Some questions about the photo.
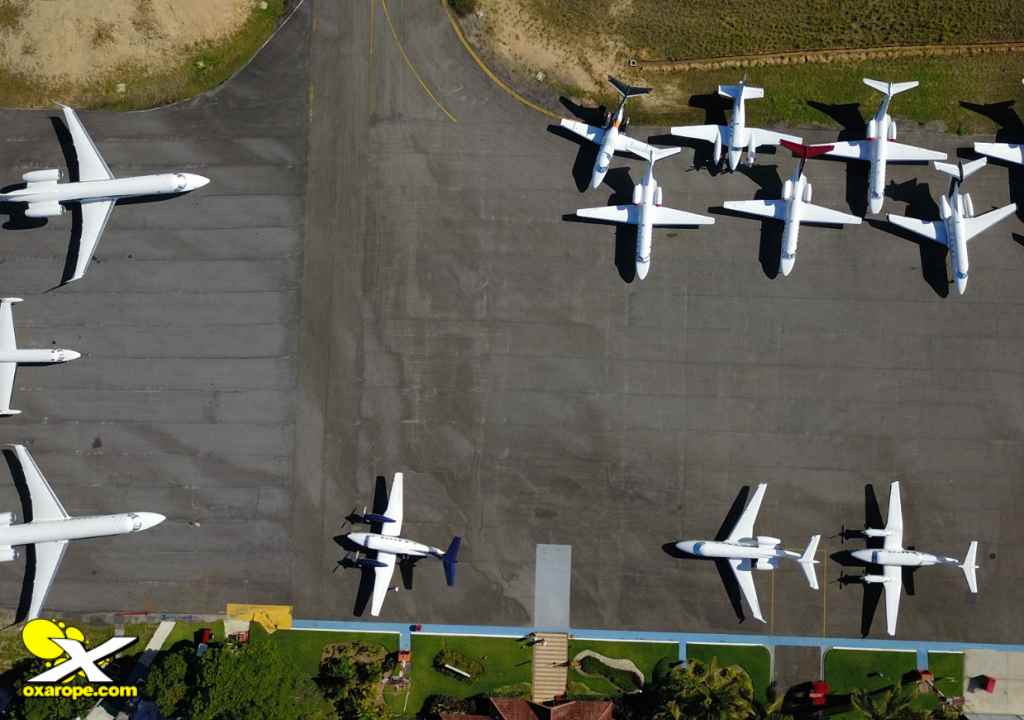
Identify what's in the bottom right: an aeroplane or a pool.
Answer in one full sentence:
The one visible in the bottom right is an aeroplane.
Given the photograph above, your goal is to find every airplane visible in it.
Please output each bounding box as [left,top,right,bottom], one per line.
[851,481,979,634]
[675,483,821,623]
[0,101,211,280]
[810,79,946,213]
[577,147,714,280]
[0,297,81,414]
[725,142,861,276]
[671,74,802,170]
[0,446,166,625]
[348,473,461,614]
[889,158,1017,294]
[559,75,663,188]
